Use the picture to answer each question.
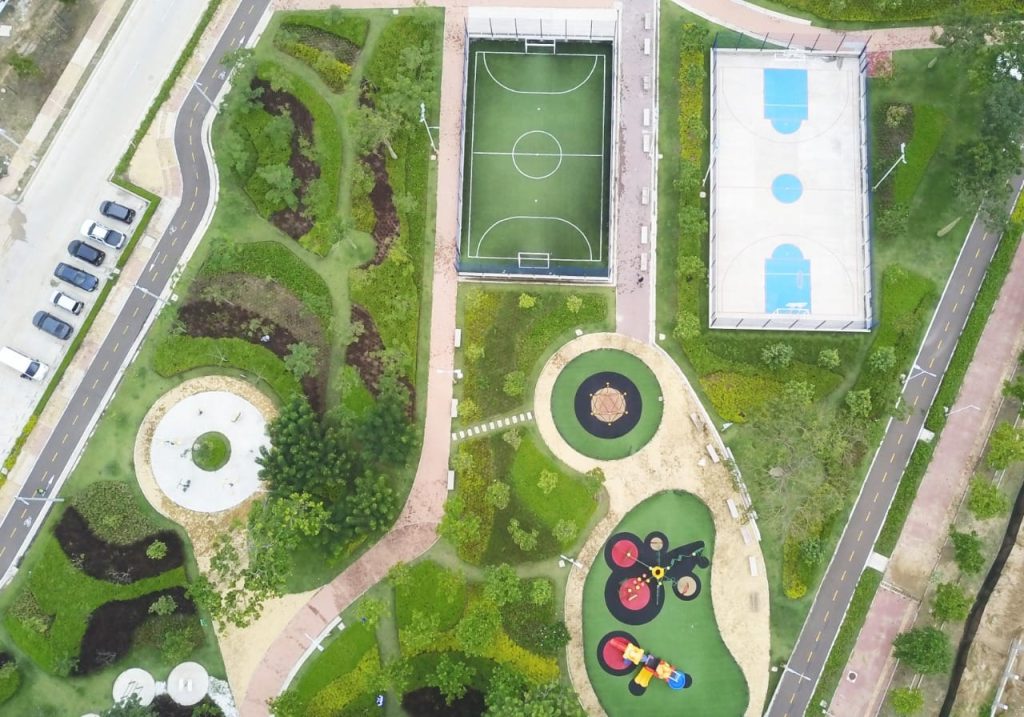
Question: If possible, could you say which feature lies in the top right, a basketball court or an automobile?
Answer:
basketball court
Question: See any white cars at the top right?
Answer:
No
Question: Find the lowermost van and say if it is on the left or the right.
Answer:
left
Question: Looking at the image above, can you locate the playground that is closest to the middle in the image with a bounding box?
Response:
[551,348,664,461]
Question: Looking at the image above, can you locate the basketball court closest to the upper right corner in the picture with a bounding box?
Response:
[709,48,870,329]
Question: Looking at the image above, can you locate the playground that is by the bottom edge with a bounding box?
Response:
[583,489,750,717]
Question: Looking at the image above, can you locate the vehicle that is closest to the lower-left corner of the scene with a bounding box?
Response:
[0,344,48,379]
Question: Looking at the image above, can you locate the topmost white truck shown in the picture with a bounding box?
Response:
[81,222,128,249]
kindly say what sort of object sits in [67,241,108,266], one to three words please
car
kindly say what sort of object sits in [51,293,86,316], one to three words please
car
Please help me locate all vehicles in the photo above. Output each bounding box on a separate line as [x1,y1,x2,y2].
[0,344,48,379]
[67,241,108,266]
[81,222,128,249]
[32,312,76,339]
[100,201,138,225]
[53,263,100,291]
[51,293,86,316]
